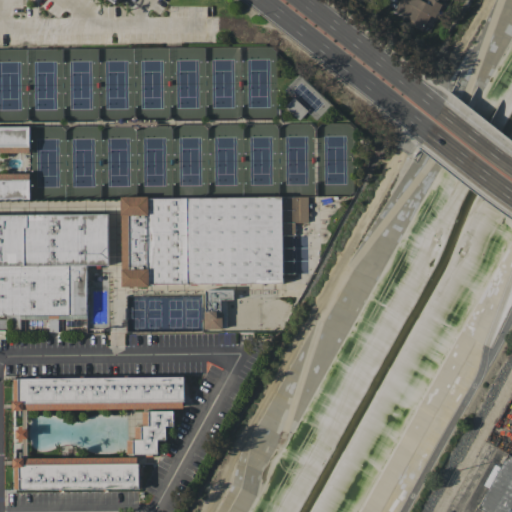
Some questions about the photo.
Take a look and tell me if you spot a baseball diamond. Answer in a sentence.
No, no baseball diamond is visible in the scene.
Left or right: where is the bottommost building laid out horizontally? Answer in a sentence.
The bottommost building laid out horizontally sits on the left side.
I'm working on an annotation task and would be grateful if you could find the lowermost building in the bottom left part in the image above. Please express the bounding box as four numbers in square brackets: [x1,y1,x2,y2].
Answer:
[11,458,140,492]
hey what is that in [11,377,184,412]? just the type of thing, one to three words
building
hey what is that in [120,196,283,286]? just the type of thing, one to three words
building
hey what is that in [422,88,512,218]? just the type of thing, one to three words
bridge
